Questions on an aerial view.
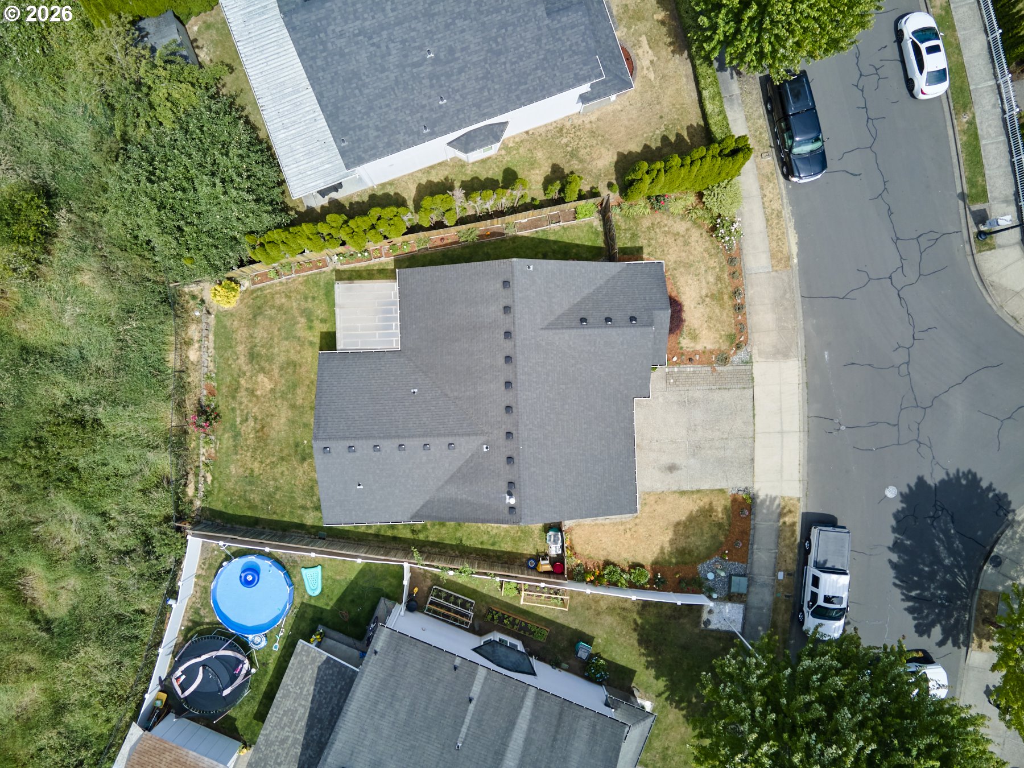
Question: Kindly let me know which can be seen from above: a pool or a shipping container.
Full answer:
This aerial view contains a pool.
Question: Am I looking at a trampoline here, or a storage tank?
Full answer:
This aerial view contains a trampoline.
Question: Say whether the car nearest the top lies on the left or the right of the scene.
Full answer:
It is on the right.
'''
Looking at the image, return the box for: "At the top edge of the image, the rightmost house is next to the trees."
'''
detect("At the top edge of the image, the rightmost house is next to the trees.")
[279,0,635,193]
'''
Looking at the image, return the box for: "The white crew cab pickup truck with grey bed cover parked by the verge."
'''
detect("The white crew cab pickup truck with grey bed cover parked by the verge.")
[795,516,848,636]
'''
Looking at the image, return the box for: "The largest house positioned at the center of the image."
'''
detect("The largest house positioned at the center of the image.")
[313,259,671,526]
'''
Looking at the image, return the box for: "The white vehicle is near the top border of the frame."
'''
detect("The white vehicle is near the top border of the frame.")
[894,13,948,102]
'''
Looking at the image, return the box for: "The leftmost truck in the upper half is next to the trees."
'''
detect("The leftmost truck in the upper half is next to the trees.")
[767,72,831,187]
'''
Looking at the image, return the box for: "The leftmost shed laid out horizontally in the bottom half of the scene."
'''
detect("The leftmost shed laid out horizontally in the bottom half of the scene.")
[111,713,241,768]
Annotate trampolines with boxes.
[160,633,254,724]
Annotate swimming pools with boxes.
[204,548,296,638]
